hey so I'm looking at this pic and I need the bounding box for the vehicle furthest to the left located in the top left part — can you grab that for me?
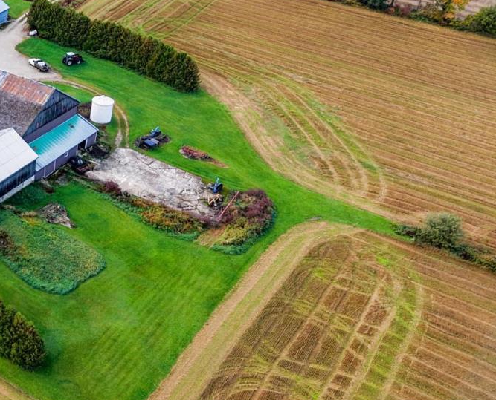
[27,57,52,71]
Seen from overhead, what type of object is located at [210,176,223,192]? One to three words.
vehicle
